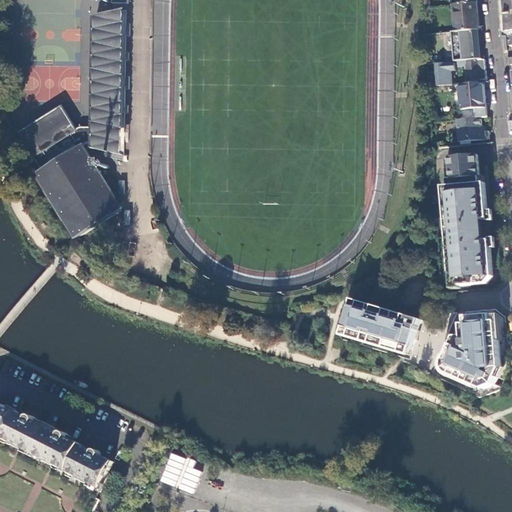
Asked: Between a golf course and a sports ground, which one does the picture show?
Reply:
sports ground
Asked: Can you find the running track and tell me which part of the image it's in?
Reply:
top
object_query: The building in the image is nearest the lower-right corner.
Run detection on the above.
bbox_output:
[436,310,510,399]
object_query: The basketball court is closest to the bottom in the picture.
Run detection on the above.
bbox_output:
[16,66,80,102]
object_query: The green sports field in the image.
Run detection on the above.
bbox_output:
[175,0,366,272]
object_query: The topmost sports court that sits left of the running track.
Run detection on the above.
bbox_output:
[14,0,81,66]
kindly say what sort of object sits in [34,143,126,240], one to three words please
building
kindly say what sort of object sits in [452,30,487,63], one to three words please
house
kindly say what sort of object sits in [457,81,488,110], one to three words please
house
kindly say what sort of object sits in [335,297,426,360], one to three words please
building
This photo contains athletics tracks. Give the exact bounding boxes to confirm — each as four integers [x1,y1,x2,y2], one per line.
[170,0,378,277]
